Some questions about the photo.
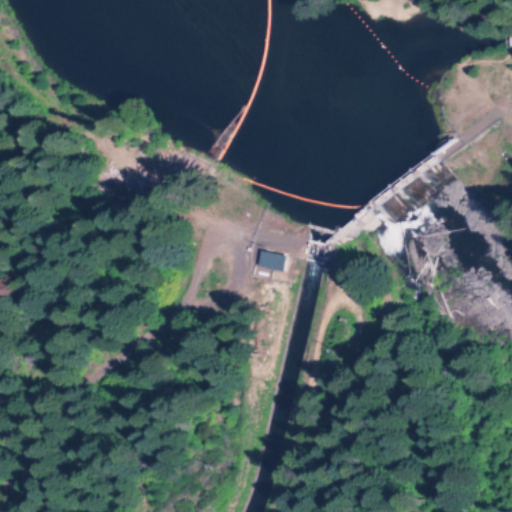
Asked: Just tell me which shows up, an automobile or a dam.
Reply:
dam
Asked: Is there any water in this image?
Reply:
Yes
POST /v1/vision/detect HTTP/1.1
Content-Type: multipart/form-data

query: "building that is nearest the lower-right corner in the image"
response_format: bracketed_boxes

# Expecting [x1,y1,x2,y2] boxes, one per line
[259,250,285,271]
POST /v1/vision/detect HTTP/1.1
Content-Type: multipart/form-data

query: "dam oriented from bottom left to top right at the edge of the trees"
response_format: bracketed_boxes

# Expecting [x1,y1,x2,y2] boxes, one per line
[320,135,466,250]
